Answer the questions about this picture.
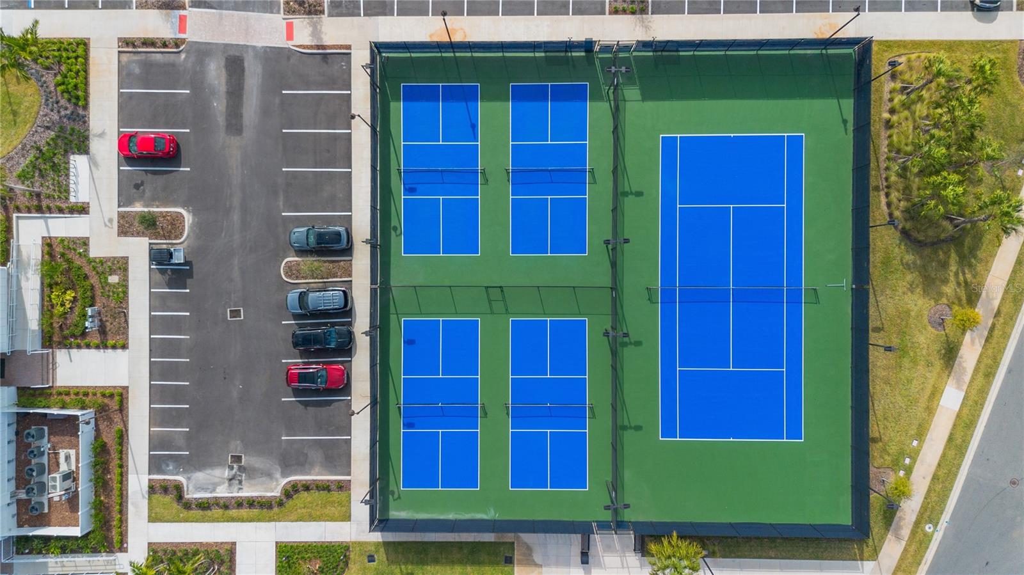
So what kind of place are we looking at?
sports ground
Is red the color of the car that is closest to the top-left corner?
Yes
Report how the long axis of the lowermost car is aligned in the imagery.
from side to side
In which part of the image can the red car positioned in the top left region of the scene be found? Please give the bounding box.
[121,129,179,159]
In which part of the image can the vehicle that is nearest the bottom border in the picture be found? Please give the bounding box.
[288,364,348,392]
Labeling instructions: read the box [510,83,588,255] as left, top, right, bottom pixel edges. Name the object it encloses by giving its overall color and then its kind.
blue sports court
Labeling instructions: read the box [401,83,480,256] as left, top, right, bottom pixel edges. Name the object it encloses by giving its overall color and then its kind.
blue sports court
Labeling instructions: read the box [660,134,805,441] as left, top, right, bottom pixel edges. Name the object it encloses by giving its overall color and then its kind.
blue tennis court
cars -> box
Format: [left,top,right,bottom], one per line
[289,287,351,316]
[288,364,348,392]
[291,224,352,253]
[121,129,179,159]
[292,325,354,353]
